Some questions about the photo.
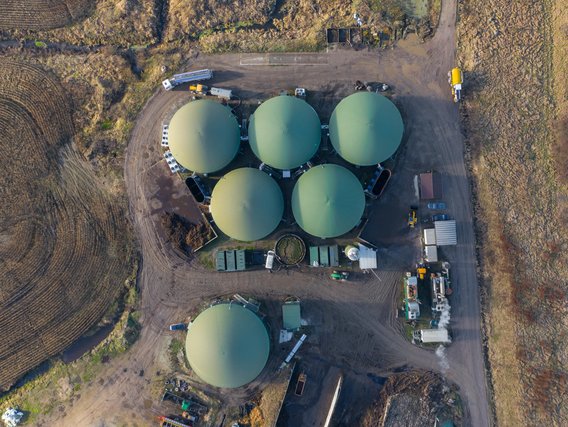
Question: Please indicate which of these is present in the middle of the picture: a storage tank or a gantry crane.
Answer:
storage tank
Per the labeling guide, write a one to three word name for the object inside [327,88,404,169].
storage tank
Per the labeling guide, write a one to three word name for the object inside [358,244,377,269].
shed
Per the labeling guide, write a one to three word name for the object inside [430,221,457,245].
shed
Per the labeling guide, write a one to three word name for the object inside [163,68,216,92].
truck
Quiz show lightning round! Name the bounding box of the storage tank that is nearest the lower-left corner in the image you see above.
[186,300,270,388]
